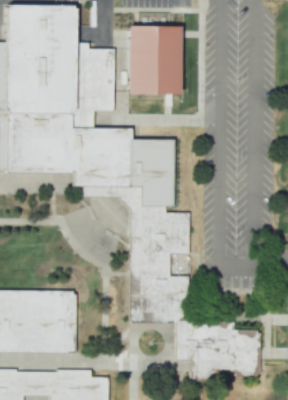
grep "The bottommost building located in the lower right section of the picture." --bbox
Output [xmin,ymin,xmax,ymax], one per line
[178,322,260,378]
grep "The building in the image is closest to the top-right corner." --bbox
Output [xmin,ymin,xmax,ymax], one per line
[131,25,184,94]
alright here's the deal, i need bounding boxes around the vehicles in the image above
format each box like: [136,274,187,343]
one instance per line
[263,196,270,206]
[240,5,250,15]
[226,196,236,206]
